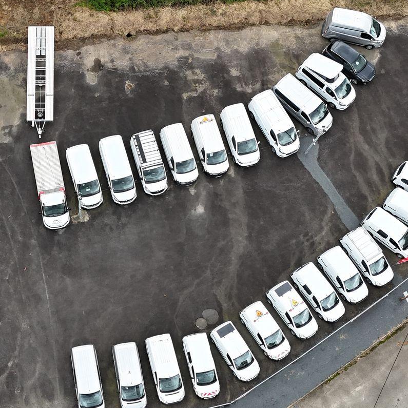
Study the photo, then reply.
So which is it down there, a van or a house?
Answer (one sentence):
I can see a van in this picture.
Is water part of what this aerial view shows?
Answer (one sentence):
No, the scene doesn't show any water.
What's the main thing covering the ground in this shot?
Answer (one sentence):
The scene is dominated by paved ground.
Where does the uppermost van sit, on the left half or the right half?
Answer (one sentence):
The uppermost van appears in the right half of the scene.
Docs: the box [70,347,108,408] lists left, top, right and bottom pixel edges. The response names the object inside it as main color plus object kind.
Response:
white vehicle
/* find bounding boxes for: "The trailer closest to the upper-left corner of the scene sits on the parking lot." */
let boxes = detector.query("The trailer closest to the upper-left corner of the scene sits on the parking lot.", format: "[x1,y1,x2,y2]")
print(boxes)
[26,26,54,138]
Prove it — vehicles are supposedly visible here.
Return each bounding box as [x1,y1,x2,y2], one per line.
[217,105,261,168]
[157,124,199,187]
[128,129,169,197]
[143,334,186,406]
[70,347,108,408]
[263,281,319,343]
[207,320,261,383]
[338,228,394,288]
[29,141,72,230]
[290,52,354,113]
[272,77,331,139]
[188,115,231,179]
[359,209,408,263]
[180,334,222,399]
[288,265,344,325]
[65,144,104,212]
[391,163,408,194]
[320,40,374,86]
[246,94,299,159]
[313,247,369,307]
[98,138,138,205]
[323,7,387,50]
[236,301,291,363]
[110,341,150,408]
[380,189,408,229]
